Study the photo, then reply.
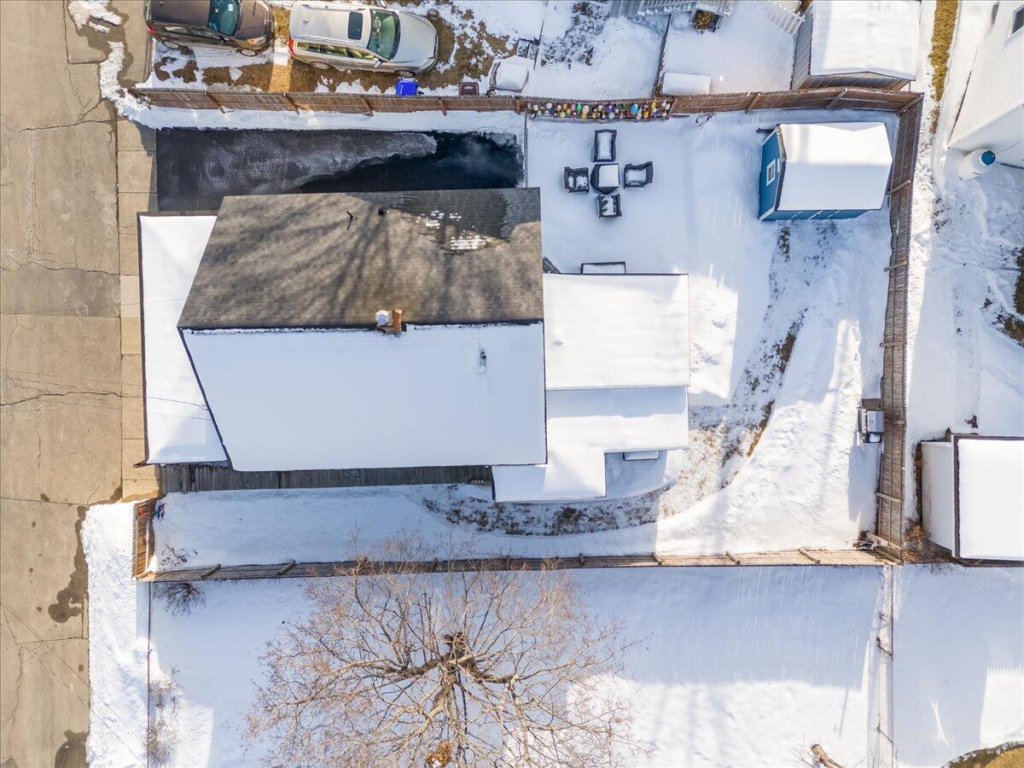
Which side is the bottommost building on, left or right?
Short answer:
right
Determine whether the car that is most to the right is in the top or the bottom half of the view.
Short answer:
top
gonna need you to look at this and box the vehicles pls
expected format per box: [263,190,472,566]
[144,0,281,49]
[286,0,440,72]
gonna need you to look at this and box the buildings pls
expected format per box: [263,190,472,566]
[137,186,689,502]
[949,0,1024,169]
[793,0,919,92]
[922,434,1024,562]
[761,122,892,220]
